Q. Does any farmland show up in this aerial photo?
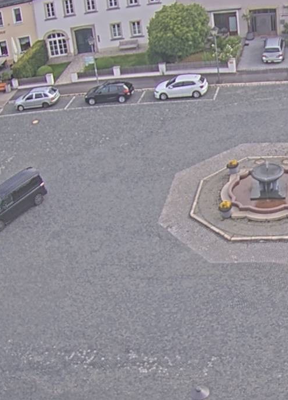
No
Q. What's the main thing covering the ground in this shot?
paved ground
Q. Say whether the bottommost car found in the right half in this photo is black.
No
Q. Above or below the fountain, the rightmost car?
above it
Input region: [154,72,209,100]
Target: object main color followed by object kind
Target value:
white car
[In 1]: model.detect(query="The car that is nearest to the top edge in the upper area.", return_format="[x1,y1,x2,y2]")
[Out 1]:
[258,36,283,64]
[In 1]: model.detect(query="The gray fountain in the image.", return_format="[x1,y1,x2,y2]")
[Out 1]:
[215,157,288,225]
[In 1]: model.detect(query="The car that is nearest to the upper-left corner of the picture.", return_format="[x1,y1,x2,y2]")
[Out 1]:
[11,83,61,111]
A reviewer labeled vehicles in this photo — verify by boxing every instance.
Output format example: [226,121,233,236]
[0,170,45,230]
[11,83,61,111]
[83,77,134,104]
[258,36,283,64]
[154,72,209,100]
